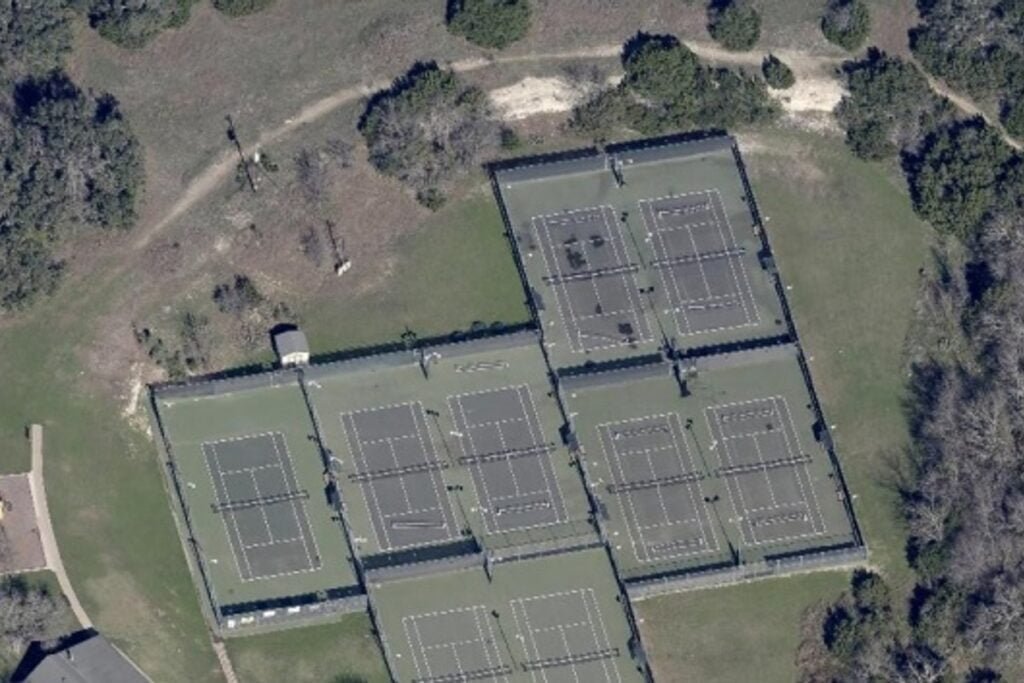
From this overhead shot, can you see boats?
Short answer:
No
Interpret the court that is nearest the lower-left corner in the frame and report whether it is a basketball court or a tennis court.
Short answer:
tennis court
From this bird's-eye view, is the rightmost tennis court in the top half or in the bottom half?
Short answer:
bottom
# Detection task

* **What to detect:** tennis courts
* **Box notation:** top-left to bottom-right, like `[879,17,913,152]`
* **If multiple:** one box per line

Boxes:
[448,385,568,534]
[340,401,460,550]
[639,189,759,335]
[597,412,719,562]
[403,606,506,683]
[533,205,652,351]
[704,396,826,545]
[202,431,322,581]
[511,588,619,683]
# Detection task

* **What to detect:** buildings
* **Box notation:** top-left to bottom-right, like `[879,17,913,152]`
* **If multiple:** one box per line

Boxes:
[24,634,148,683]
[276,329,310,369]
